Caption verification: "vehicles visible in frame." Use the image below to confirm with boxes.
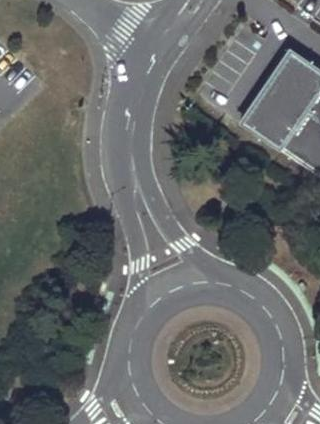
[250,19,268,38]
[4,59,25,80]
[302,0,317,13]
[0,52,16,71]
[116,59,128,82]
[14,68,34,89]
[210,90,230,106]
[0,42,8,58]
[272,18,288,42]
